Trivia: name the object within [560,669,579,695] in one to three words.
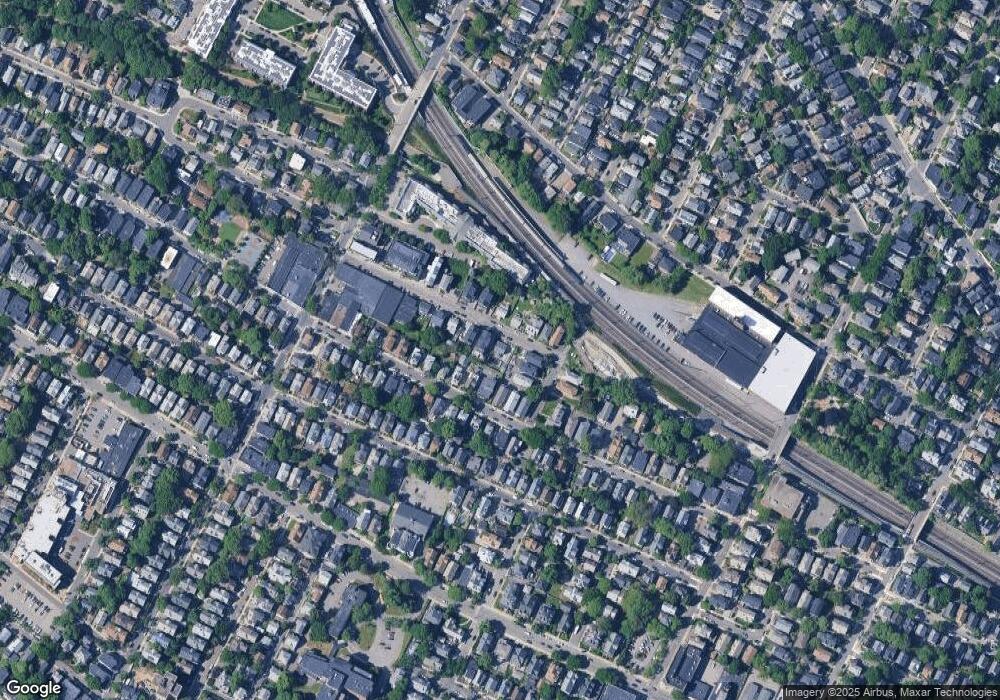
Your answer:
house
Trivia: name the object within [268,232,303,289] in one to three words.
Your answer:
building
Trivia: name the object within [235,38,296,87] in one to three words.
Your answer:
building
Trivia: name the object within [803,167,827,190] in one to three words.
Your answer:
house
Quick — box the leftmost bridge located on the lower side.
[761,404,803,471]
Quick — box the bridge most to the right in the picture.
[904,479,948,548]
